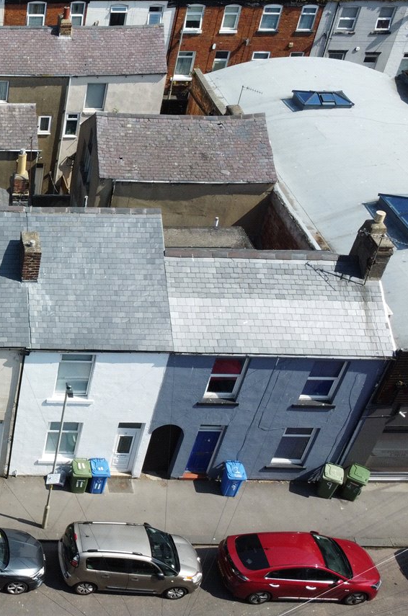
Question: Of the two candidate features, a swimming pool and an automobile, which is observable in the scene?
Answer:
automobile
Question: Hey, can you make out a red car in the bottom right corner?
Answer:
Yes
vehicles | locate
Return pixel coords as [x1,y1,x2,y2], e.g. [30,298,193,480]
[0,524,51,592]
[221,527,393,606]
[54,516,202,597]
